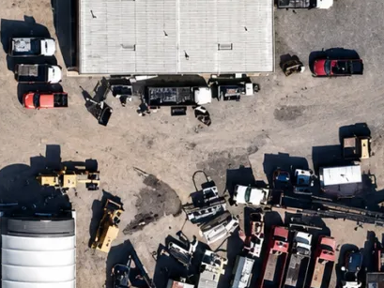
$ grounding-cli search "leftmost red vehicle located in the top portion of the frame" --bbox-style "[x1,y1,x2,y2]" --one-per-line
[22,89,66,110]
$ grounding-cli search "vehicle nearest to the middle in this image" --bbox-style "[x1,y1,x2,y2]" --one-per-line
[191,104,212,123]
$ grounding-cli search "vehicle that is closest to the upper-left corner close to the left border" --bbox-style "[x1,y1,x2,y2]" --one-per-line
[9,35,55,57]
